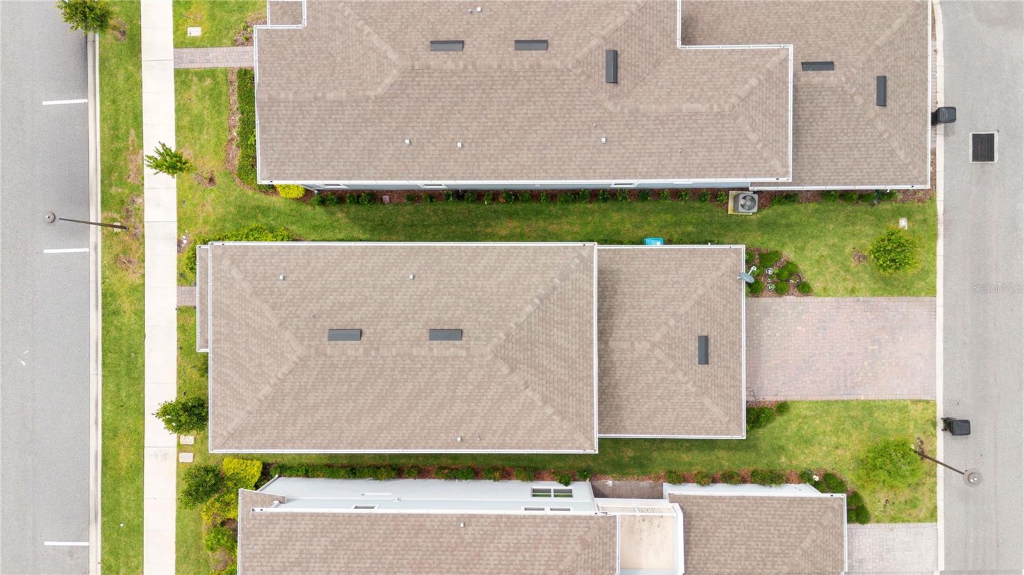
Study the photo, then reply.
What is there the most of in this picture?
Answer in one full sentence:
What you mostly see from above here is buildings.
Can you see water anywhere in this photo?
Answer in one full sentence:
No, there's no water in this view.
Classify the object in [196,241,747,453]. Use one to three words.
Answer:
house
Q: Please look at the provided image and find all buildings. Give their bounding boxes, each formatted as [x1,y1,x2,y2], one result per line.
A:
[254,0,931,193]
[237,478,847,575]
[196,241,747,453]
